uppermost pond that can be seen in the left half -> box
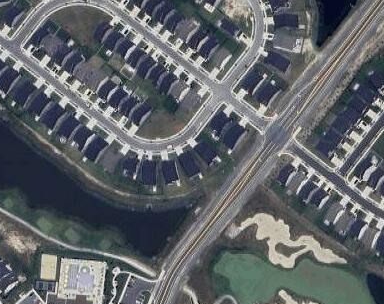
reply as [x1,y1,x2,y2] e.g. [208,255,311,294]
[0,113,189,259]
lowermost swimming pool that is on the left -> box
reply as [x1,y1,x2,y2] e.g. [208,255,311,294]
[58,258,106,304]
